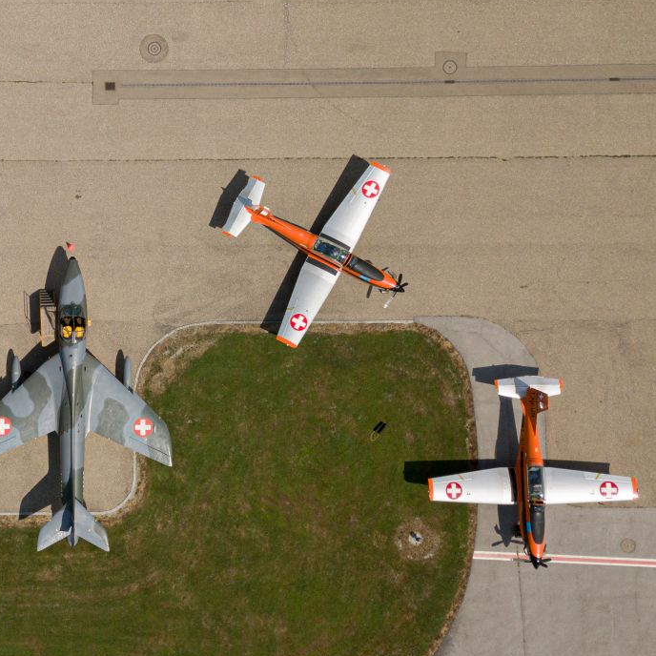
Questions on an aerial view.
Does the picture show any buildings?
No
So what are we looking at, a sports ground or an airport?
airport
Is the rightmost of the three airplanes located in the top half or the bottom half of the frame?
bottom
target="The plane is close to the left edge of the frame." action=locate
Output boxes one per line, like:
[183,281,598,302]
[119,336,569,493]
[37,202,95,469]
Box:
[0,255,173,551]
